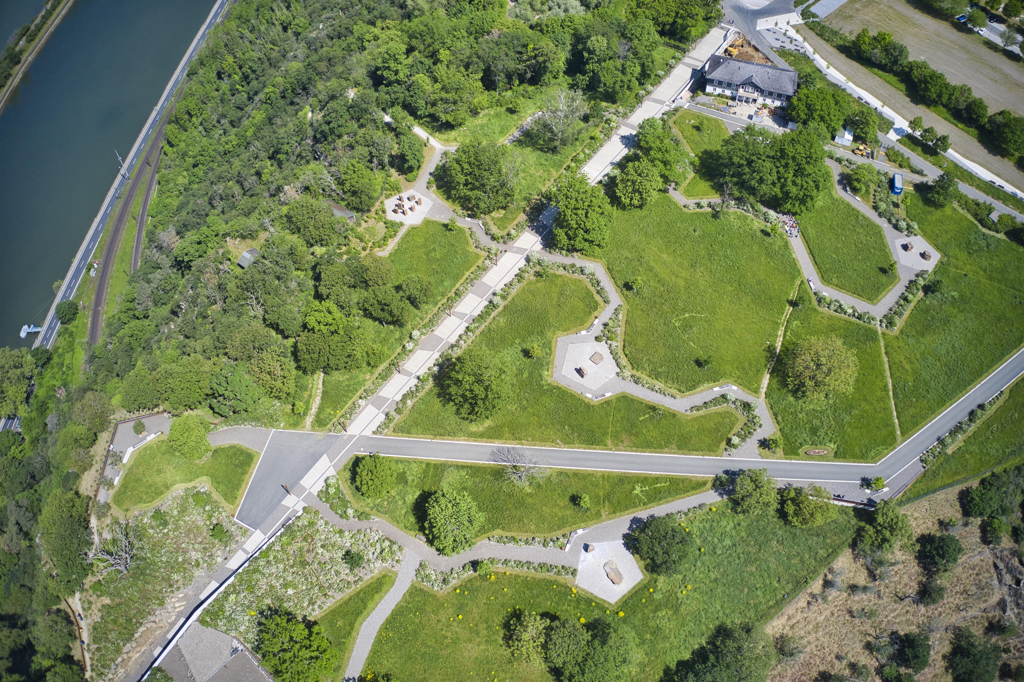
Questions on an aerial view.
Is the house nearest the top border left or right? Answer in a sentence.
The house nearest the top border appears in the right half of the scene.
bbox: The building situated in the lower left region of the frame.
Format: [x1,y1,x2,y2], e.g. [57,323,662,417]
[160,621,277,682]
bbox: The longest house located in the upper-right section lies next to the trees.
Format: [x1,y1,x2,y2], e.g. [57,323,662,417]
[706,54,800,107]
